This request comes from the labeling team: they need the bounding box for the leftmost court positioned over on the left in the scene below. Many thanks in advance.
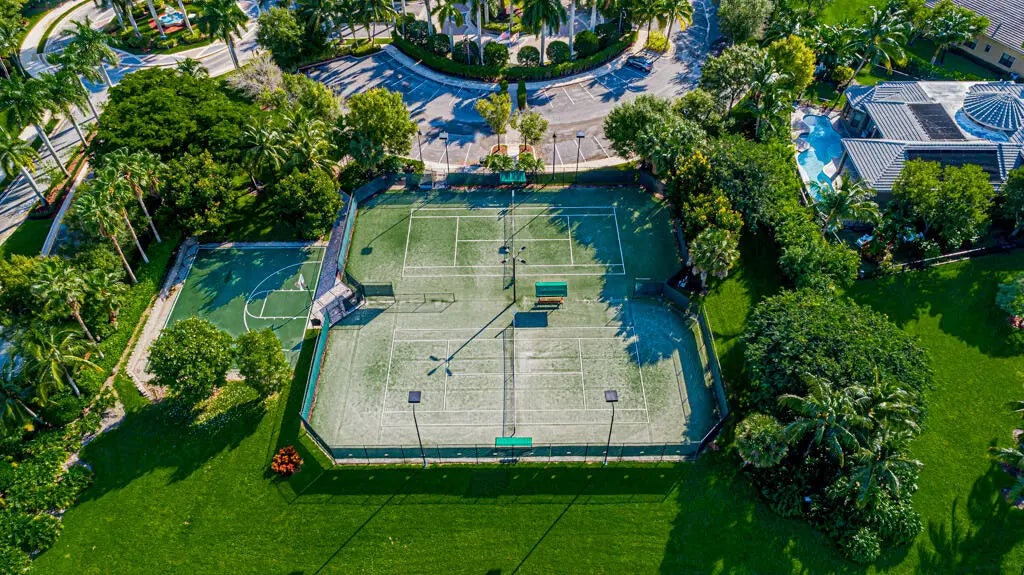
[164,246,325,357]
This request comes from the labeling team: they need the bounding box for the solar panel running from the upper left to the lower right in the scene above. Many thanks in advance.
[899,101,964,138]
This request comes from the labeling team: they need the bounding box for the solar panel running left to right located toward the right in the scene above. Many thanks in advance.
[915,150,1010,183]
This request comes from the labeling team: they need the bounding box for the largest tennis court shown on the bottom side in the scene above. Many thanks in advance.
[310,299,719,464]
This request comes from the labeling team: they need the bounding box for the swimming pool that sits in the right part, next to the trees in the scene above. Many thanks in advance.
[796,114,848,205]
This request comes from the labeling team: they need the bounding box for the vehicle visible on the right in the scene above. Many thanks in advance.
[624,53,656,71]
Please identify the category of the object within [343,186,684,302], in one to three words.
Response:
tennis court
